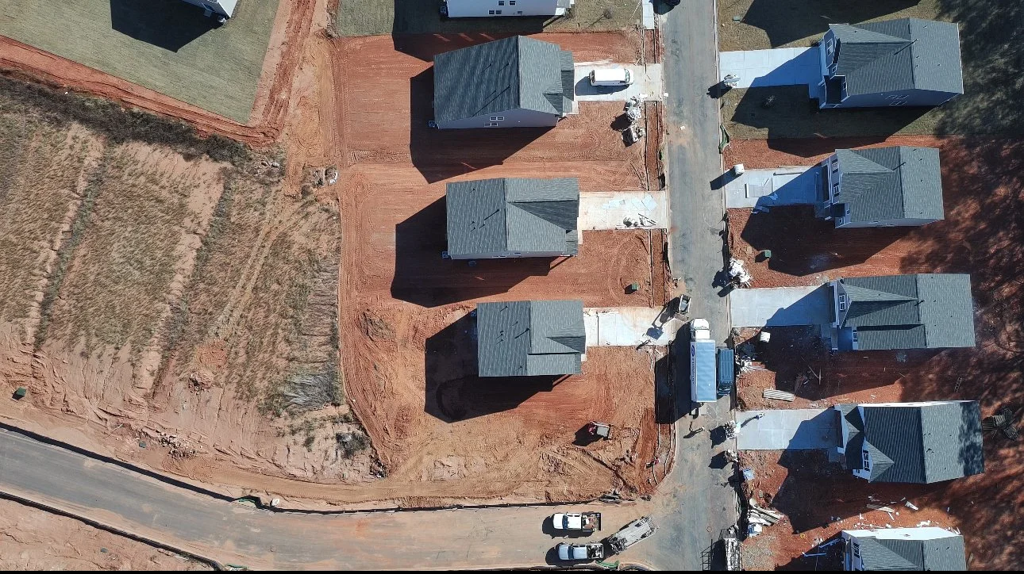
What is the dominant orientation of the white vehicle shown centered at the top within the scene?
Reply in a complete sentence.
What the image shows is the white vehicle shown centered at the top lying from left to right.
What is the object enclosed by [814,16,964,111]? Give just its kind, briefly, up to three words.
house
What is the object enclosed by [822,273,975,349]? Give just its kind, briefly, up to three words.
house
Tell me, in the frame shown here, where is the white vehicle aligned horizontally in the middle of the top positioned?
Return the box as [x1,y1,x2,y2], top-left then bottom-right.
[590,66,633,86]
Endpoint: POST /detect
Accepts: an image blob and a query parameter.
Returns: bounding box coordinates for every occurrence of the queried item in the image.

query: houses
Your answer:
[830,398,985,485]
[476,300,586,378]
[815,145,948,229]
[442,0,573,16]
[814,16,964,111]
[833,526,967,574]
[446,178,580,258]
[433,35,574,129]
[822,273,975,349]
[176,0,236,17]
